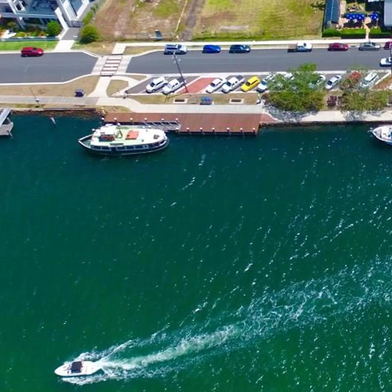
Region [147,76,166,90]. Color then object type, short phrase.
white car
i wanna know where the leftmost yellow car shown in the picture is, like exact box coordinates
[242,75,260,89]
